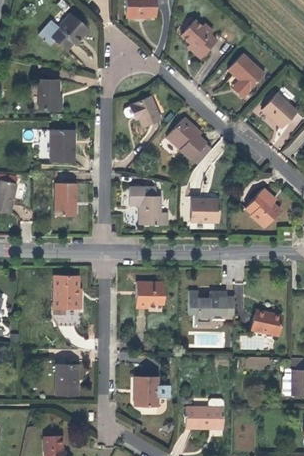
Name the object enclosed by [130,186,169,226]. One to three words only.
house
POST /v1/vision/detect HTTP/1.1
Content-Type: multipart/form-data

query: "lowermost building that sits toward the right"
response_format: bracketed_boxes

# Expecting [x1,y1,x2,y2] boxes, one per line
[185,398,225,438]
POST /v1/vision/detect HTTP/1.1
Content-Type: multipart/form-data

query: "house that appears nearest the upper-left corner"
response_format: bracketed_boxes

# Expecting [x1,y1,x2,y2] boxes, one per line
[38,13,90,52]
